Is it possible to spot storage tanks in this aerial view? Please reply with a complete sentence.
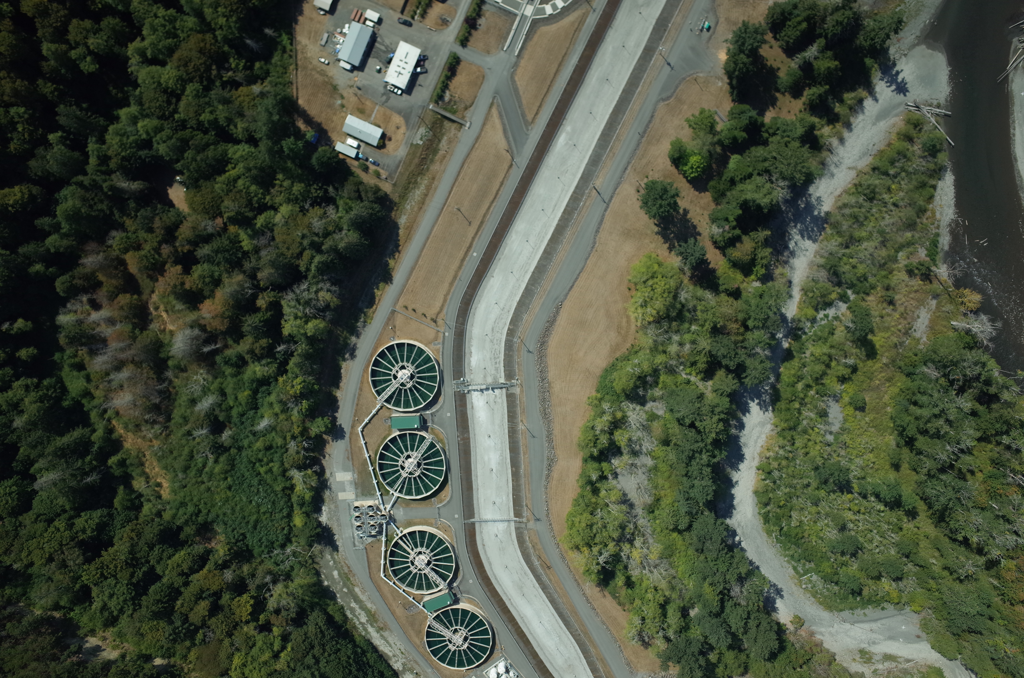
Yes, I can see a storage tank in this picture.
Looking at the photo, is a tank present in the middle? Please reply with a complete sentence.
Yes, a tank appears in the middle.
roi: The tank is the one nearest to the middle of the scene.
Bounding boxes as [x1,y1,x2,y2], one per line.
[370,338,442,410]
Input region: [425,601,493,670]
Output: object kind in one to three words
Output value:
storage tank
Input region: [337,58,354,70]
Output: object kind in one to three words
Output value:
vehicle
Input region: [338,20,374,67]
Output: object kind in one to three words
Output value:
shed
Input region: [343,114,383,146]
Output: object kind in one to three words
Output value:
house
